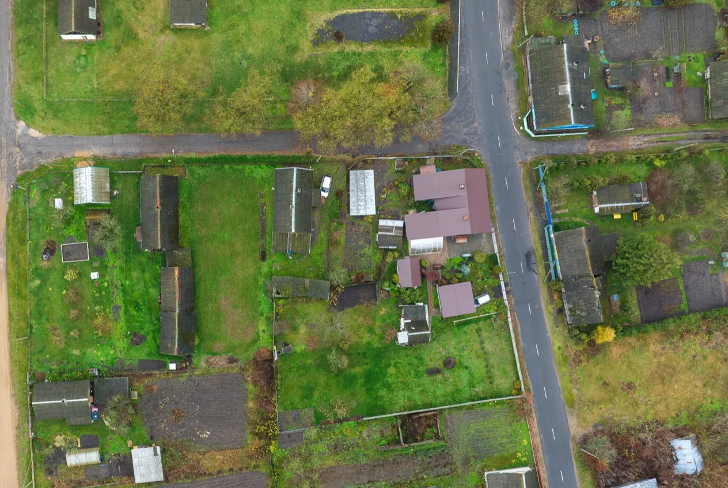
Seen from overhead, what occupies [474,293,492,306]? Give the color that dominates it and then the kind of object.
white vehicle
